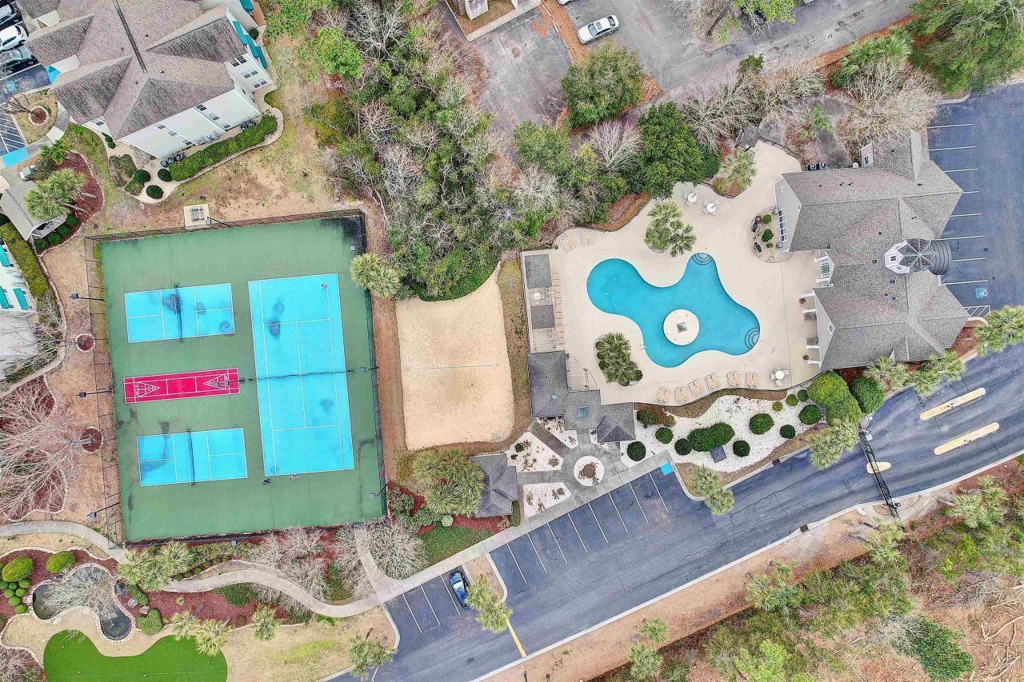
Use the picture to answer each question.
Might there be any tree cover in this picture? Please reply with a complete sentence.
Yes, there's tree cover in this view.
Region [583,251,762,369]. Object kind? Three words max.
swimming pool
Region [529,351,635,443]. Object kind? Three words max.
building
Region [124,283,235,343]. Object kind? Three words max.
sports court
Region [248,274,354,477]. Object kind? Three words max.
tennis court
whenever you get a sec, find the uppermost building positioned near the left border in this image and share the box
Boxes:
[11,0,274,158]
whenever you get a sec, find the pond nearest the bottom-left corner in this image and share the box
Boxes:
[30,564,134,642]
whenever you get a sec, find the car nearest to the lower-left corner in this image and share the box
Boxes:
[445,568,471,610]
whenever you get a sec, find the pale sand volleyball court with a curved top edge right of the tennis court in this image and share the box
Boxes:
[397,274,515,450]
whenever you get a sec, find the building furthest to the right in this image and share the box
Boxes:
[771,111,970,370]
